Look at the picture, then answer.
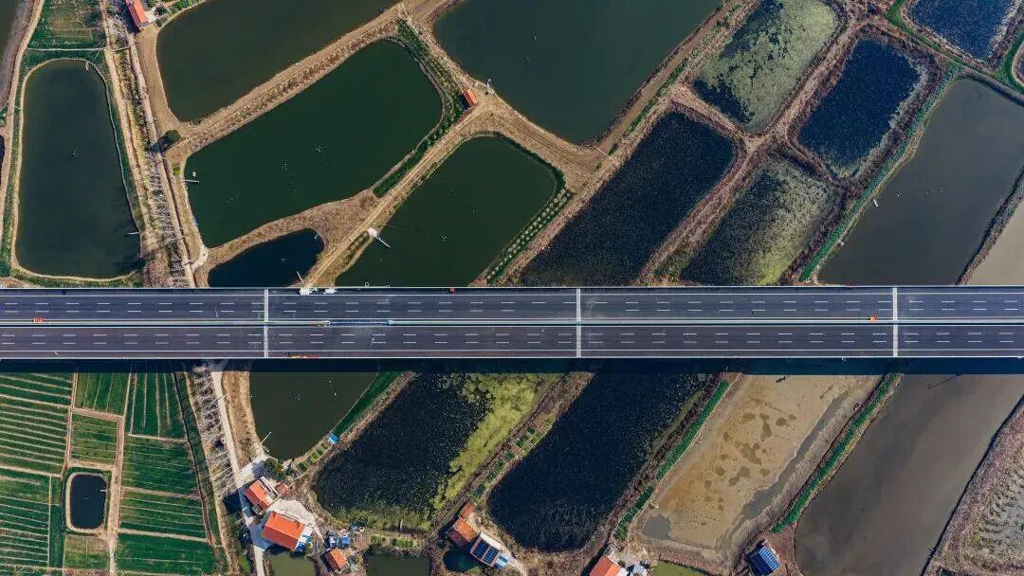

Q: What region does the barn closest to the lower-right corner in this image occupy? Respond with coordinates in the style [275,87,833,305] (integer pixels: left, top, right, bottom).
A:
[749,544,780,576]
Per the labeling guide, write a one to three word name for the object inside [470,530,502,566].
barn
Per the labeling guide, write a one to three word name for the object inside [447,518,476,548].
house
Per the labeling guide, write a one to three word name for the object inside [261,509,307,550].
house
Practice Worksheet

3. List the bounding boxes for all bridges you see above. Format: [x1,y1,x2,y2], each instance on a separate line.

[0,286,1024,359]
